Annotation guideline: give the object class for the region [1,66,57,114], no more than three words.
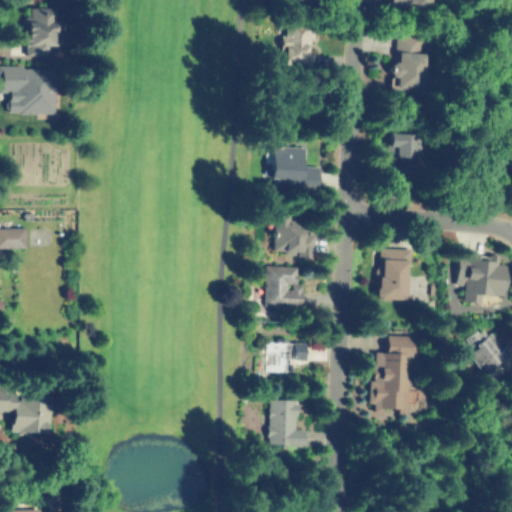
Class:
house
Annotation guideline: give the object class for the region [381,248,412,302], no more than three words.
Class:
house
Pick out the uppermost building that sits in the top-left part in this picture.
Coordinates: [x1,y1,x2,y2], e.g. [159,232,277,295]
[27,8,59,57]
